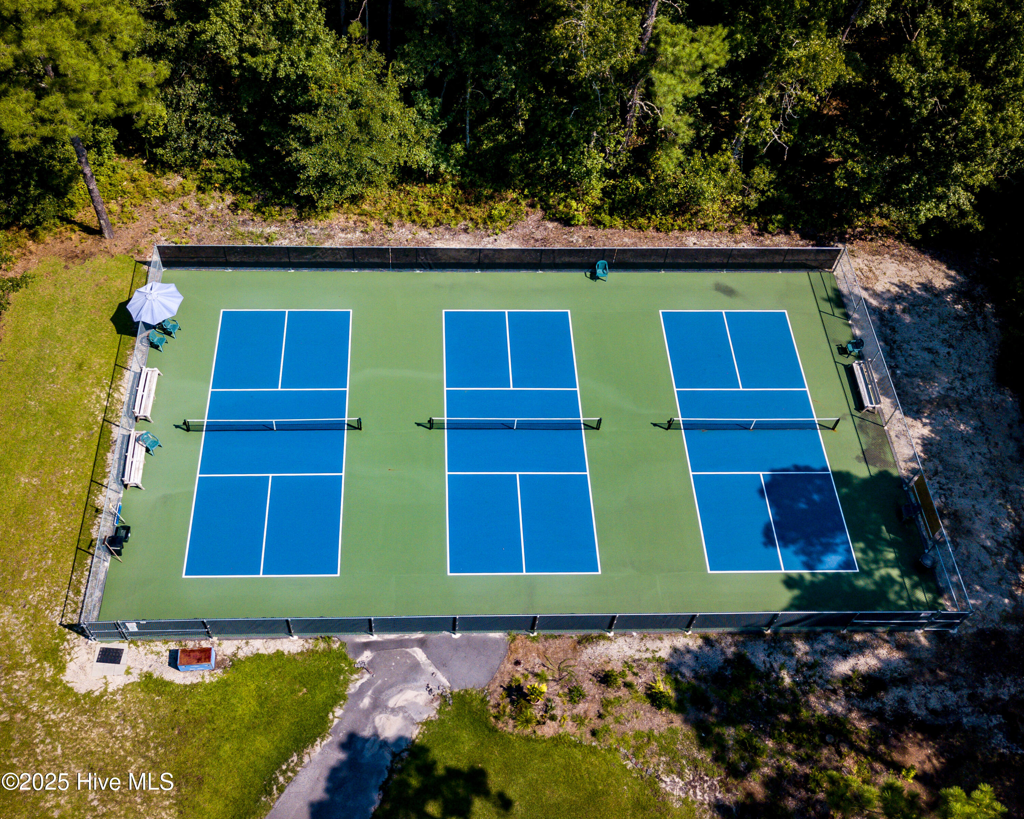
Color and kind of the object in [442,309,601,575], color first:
blue sports court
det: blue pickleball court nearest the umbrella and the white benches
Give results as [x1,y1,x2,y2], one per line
[183,309,352,578]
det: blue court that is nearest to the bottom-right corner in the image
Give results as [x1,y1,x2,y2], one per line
[660,310,859,573]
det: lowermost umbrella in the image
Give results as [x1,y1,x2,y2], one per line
[126,281,184,331]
